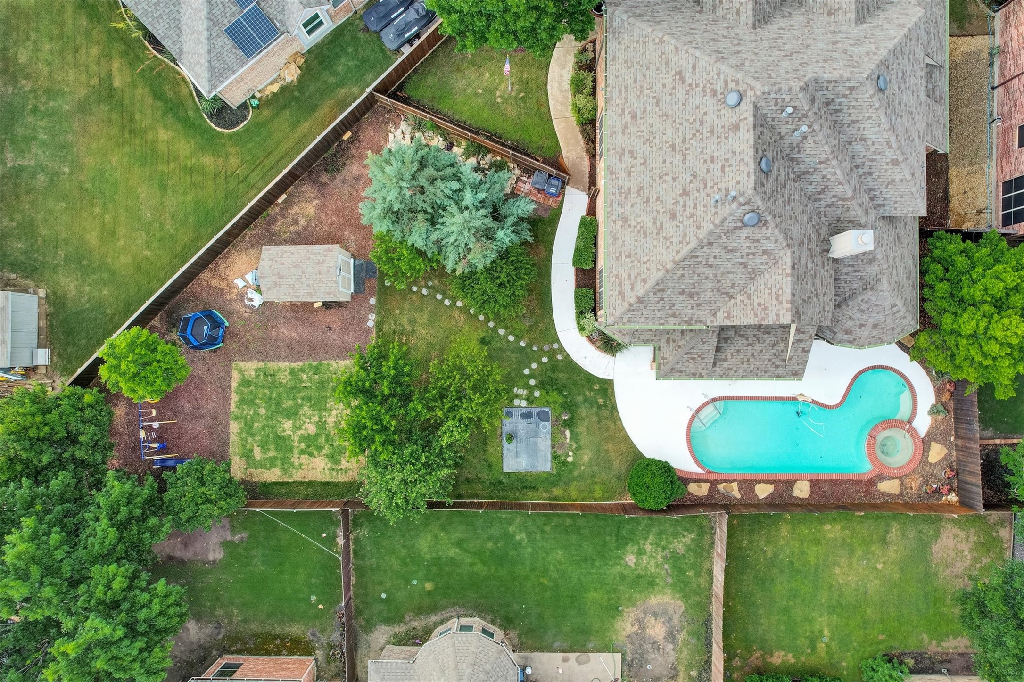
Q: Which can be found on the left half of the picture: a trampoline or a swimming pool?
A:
trampoline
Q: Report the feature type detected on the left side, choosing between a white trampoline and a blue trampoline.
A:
blue trampoline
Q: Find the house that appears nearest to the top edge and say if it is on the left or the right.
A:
left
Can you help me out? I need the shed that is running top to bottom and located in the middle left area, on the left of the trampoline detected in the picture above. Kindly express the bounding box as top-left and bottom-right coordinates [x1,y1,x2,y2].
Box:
[0,288,37,372]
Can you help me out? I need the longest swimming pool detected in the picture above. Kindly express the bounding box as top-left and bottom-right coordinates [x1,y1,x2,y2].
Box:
[678,364,919,480]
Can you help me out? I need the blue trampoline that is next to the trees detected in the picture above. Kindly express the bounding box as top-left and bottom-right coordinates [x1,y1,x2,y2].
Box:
[178,308,230,352]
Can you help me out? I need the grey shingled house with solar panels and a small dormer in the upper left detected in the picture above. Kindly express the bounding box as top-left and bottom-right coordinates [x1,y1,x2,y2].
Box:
[120,0,372,108]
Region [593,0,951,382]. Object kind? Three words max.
house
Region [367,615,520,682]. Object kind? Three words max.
house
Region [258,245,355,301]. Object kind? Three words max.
shed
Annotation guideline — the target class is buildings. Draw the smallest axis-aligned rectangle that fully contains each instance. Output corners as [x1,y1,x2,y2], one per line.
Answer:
[367,615,520,682]
[988,0,1024,229]
[593,0,951,382]
[258,245,355,301]
[120,0,372,108]
[186,654,316,682]
[904,670,973,682]
[0,288,37,372]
